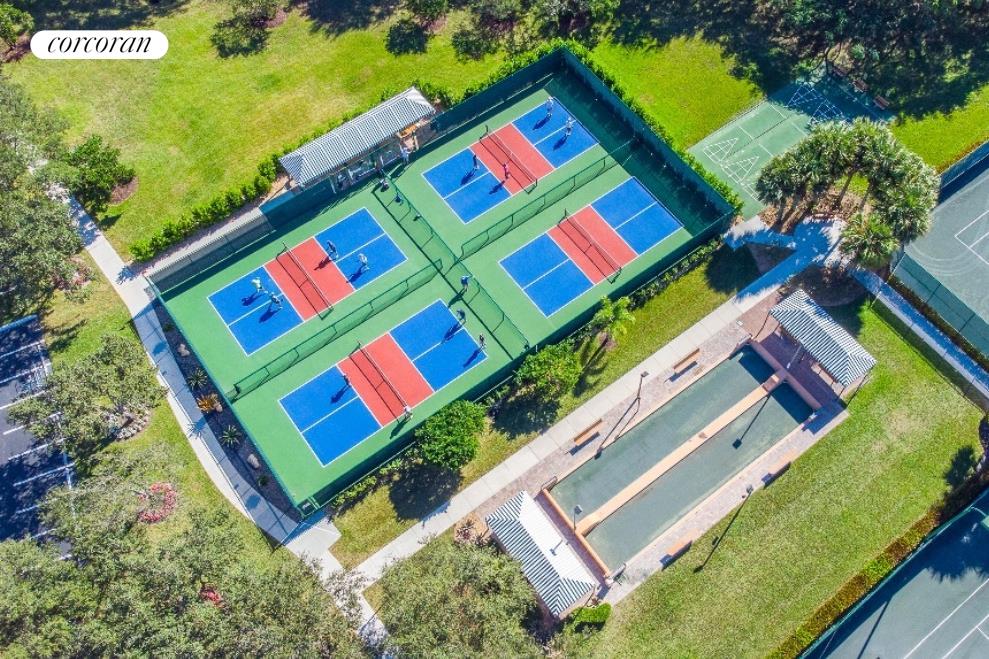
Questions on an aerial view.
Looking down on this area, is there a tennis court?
Yes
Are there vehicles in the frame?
No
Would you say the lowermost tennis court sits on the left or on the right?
right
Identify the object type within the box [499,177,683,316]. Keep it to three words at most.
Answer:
sports court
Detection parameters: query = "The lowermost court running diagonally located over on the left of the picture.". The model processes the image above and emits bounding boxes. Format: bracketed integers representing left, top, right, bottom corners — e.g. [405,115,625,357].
[278,299,488,466]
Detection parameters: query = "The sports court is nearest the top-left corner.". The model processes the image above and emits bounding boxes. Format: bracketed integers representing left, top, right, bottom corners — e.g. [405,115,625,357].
[208,207,408,355]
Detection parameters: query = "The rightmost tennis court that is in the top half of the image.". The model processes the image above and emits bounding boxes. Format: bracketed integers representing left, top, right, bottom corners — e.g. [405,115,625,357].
[889,157,989,363]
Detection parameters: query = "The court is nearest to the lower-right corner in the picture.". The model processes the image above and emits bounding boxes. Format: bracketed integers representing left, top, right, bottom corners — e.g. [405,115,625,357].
[820,502,989,659]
